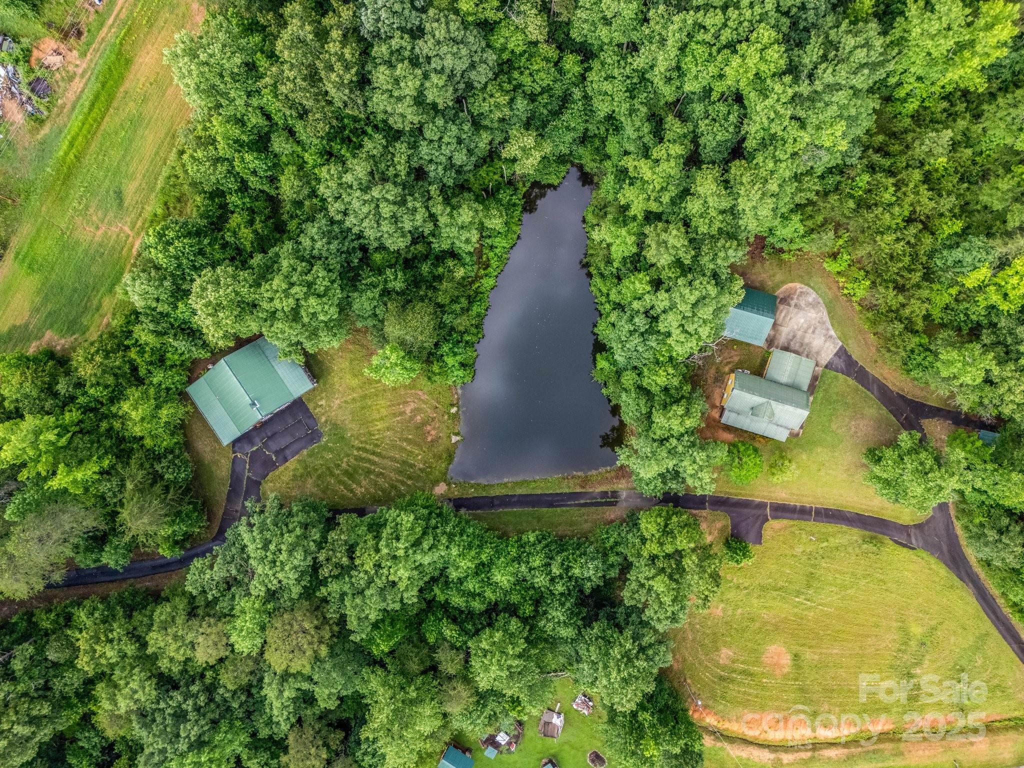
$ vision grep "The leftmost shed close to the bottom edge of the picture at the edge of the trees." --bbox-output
[436,732,477,768]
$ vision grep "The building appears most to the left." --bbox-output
[187,331,326,446]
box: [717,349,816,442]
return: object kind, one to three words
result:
house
